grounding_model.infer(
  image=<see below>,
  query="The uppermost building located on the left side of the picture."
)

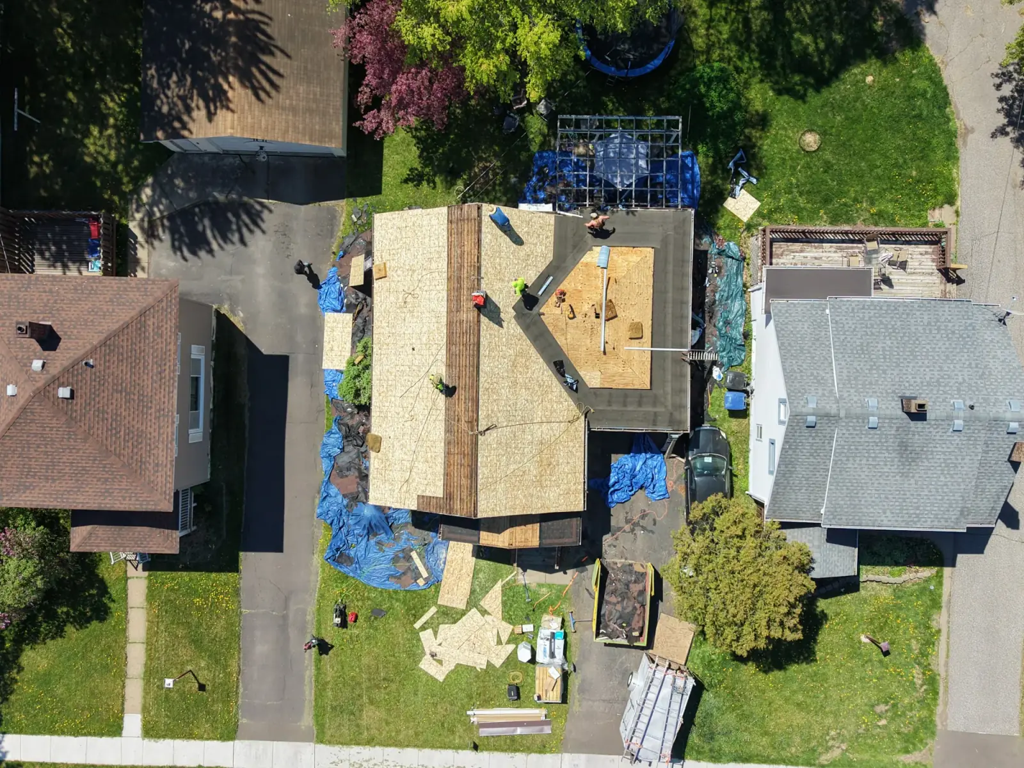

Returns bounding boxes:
[138,0,355,157]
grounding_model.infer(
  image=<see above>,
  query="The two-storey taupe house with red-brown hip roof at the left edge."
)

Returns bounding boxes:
[0,270,213,561]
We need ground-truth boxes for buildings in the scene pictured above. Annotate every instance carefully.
[0,270,213,561]
[744,265,1024,581]
[366,204,697,582]
[138,0,355,157]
